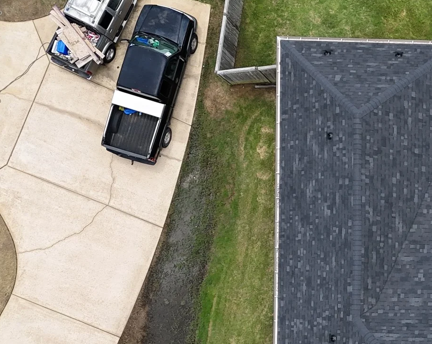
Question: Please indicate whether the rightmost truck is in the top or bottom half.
top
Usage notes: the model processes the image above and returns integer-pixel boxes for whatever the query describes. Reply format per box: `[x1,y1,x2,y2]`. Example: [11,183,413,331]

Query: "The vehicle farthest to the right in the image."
[98,3,202,167]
